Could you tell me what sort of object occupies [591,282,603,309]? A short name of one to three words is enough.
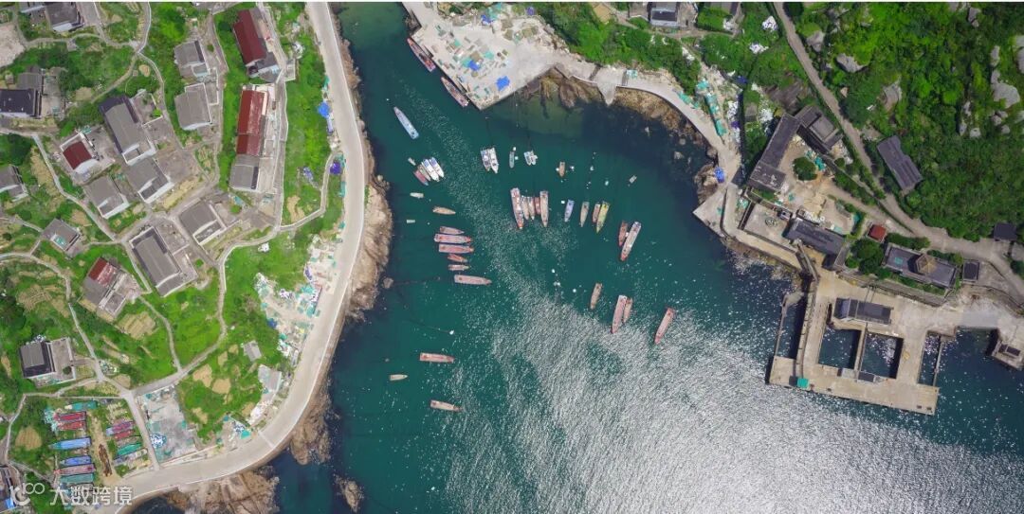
boat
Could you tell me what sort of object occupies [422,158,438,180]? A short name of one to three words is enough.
boat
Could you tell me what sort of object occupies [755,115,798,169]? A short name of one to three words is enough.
house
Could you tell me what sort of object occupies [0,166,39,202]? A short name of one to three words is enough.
house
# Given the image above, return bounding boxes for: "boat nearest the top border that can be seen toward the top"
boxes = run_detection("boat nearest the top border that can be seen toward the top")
[407,37,436,73]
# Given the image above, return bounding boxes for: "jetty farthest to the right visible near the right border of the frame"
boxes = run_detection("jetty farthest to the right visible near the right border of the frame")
[767,248,1024,415]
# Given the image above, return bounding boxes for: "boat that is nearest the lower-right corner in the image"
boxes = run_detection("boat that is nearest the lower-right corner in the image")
[656,307,675,344]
